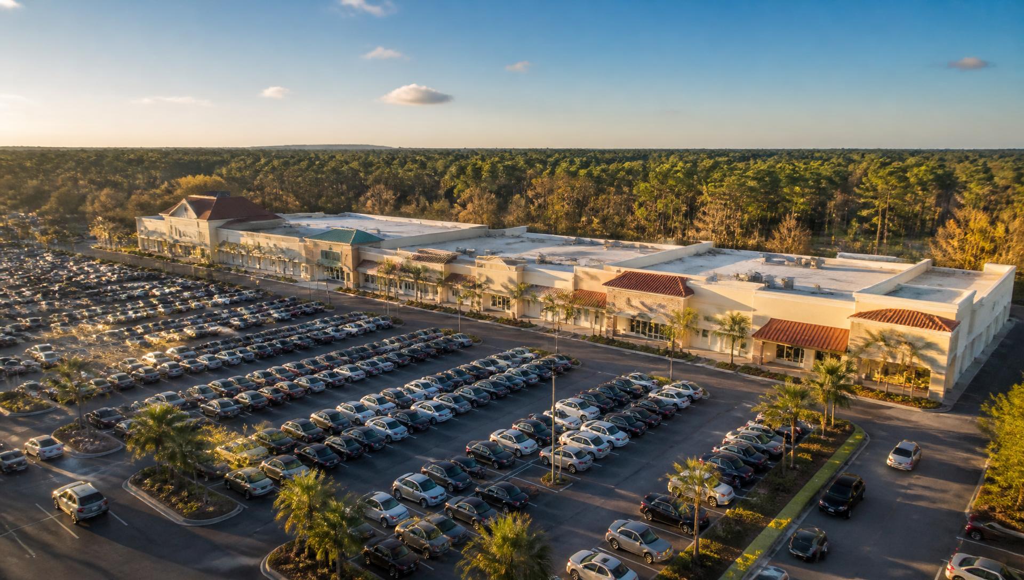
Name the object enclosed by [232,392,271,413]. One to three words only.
car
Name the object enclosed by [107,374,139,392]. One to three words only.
car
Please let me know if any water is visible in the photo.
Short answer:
No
